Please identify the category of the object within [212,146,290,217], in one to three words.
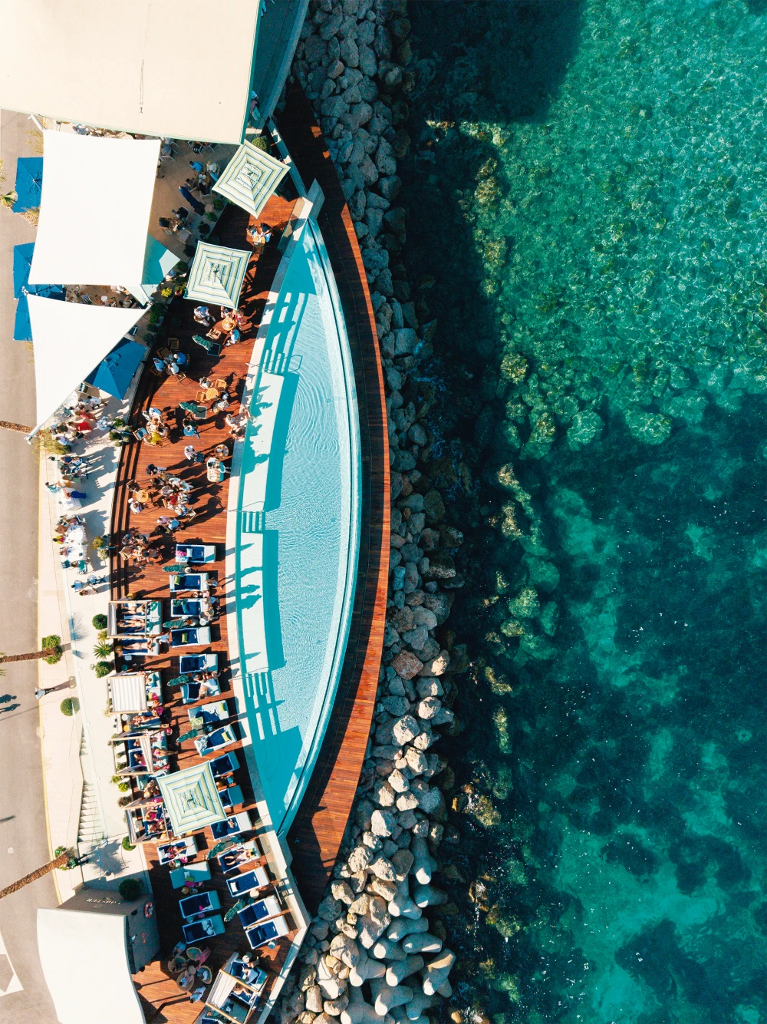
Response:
umbrella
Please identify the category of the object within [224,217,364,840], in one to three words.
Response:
swimming pool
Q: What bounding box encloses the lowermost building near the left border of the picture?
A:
[37,885,161,1024]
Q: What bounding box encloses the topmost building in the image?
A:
[0,0,266,158]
